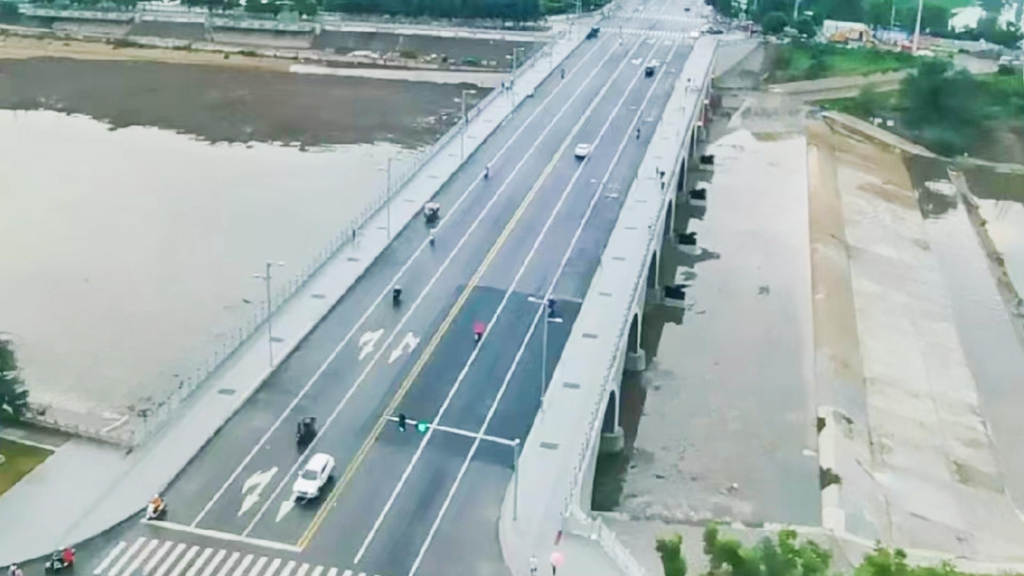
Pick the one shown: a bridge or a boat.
bridge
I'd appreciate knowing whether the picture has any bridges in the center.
Yes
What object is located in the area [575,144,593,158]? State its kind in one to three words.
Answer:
car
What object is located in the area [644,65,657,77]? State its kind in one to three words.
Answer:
vehicle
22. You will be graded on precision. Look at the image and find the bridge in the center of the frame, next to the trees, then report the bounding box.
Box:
[129,27,720,495]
